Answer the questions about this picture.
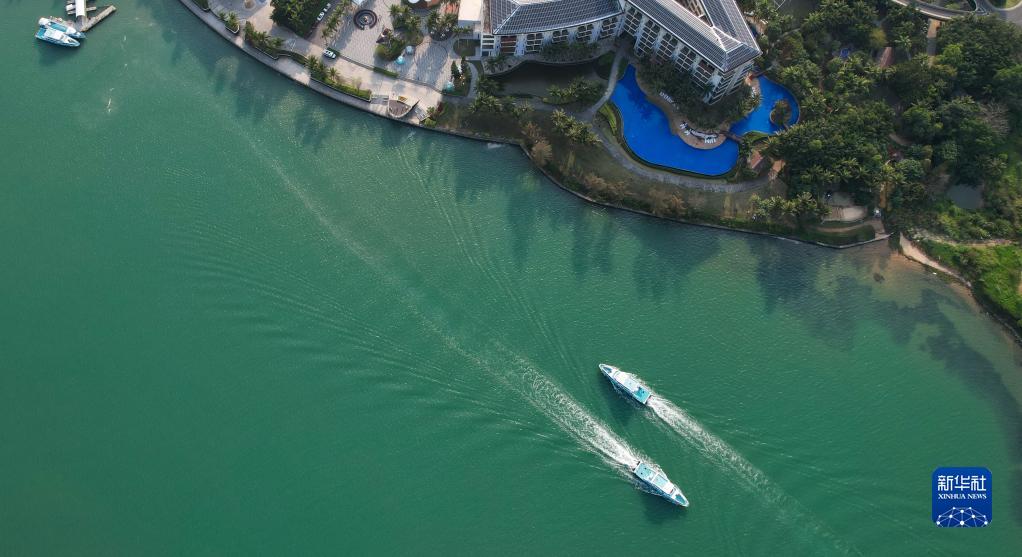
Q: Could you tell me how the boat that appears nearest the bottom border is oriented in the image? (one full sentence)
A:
In this picture, the boat that appears nearest the bottom border is oriented on a diagonal.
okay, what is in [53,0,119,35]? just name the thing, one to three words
pier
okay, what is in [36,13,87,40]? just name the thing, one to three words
boat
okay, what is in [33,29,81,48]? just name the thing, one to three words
boat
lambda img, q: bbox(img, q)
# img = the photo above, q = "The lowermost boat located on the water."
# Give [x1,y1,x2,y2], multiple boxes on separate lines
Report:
[633,459,689,506]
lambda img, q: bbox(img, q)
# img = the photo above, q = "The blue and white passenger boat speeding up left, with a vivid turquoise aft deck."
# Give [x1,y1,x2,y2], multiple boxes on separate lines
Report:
[600,364,651,407]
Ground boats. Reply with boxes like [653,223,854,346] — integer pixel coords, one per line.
[633,459,689,506]
[36,13,87,40]
[600,364,651,407]
[33,29,81,48]
[63,3,76,11]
